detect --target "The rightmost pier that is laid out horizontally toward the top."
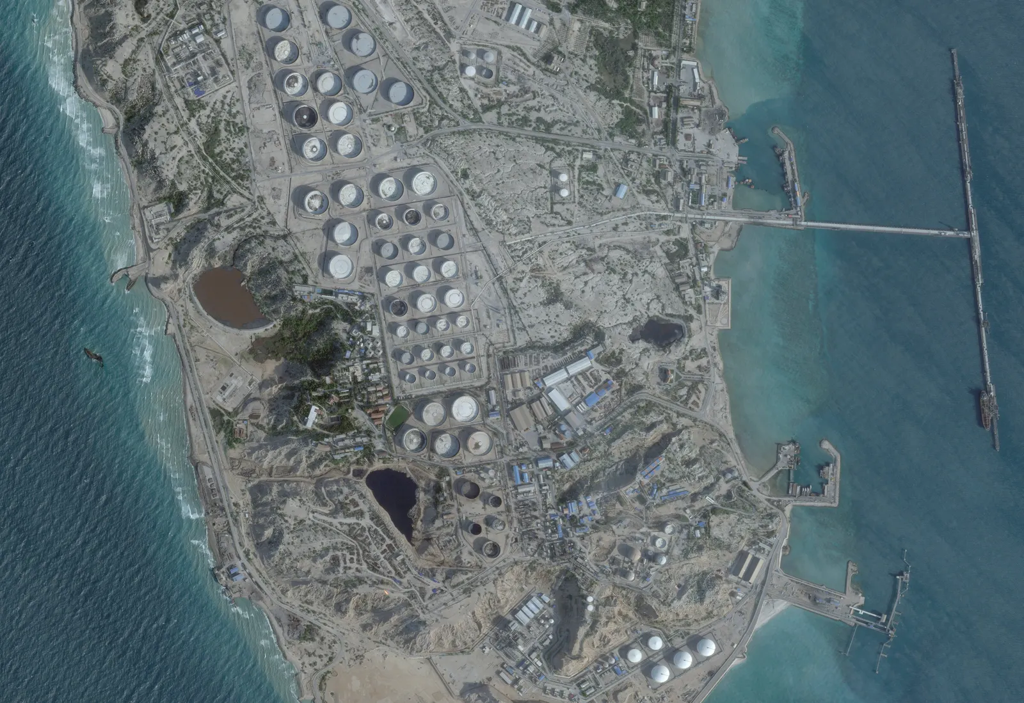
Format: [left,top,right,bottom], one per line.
[802,220,972,238]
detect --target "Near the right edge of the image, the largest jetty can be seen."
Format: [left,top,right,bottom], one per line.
[952,49,1000,450]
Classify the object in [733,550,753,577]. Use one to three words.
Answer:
building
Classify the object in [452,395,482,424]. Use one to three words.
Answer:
storage tank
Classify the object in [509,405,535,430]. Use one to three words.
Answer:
building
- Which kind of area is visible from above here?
port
